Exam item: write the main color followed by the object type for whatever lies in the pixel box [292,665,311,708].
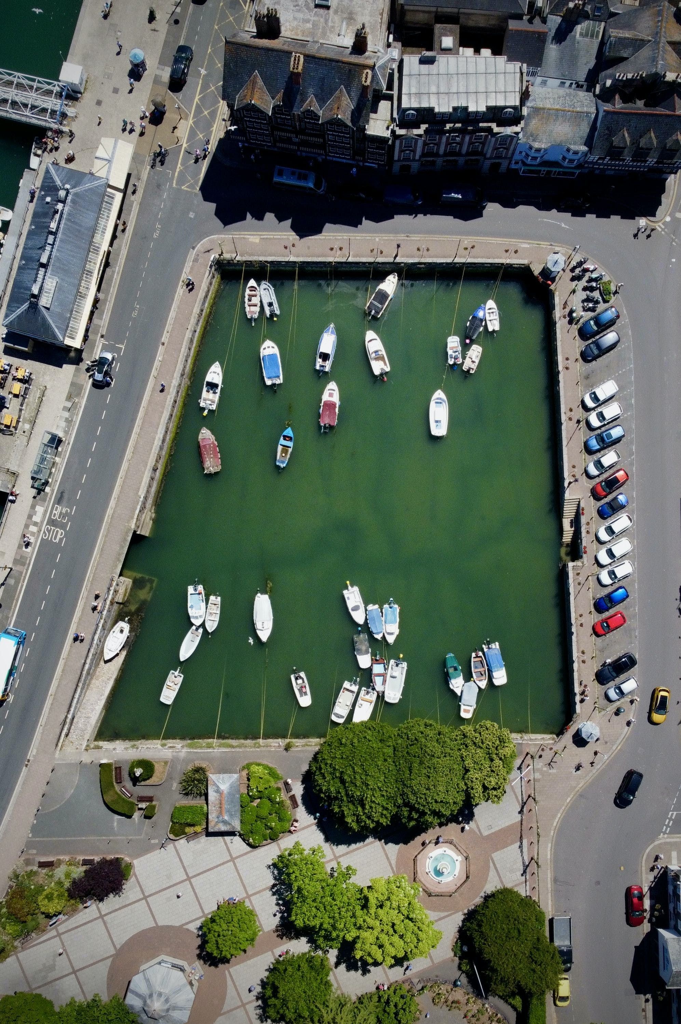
white boat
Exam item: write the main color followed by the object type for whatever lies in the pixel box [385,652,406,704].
white boat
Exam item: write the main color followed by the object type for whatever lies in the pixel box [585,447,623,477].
white car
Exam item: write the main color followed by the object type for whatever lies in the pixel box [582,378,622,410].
white van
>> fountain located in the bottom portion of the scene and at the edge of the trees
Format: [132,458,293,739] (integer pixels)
[413,835,474,901]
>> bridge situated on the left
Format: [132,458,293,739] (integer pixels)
[0,69,78,133]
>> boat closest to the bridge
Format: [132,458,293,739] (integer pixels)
[30,137,42,170]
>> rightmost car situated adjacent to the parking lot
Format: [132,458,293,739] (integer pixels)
[649,687,672,724]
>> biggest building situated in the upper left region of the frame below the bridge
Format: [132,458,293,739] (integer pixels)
[2,162,123,353]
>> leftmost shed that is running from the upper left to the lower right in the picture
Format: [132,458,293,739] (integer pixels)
[49,36,90,99]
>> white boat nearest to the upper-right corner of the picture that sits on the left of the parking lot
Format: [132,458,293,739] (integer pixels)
[487,300,499,338]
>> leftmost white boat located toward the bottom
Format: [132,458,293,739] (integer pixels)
[104,616,130,661]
